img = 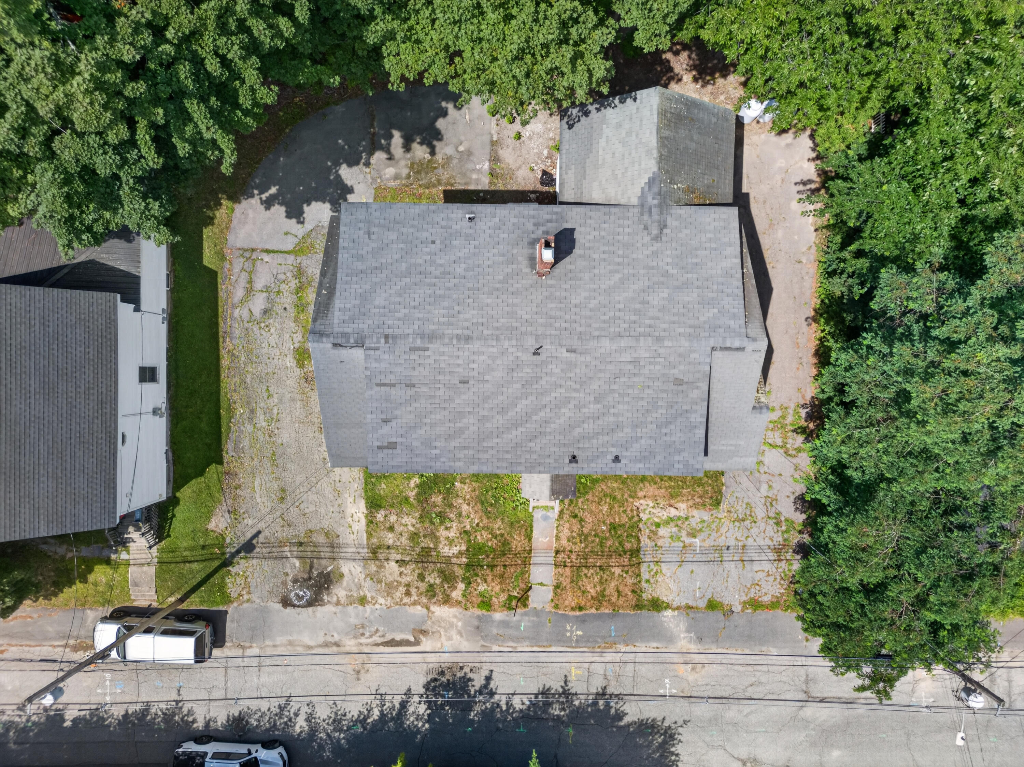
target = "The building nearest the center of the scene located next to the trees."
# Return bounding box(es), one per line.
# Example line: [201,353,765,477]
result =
[308,86,771,512]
